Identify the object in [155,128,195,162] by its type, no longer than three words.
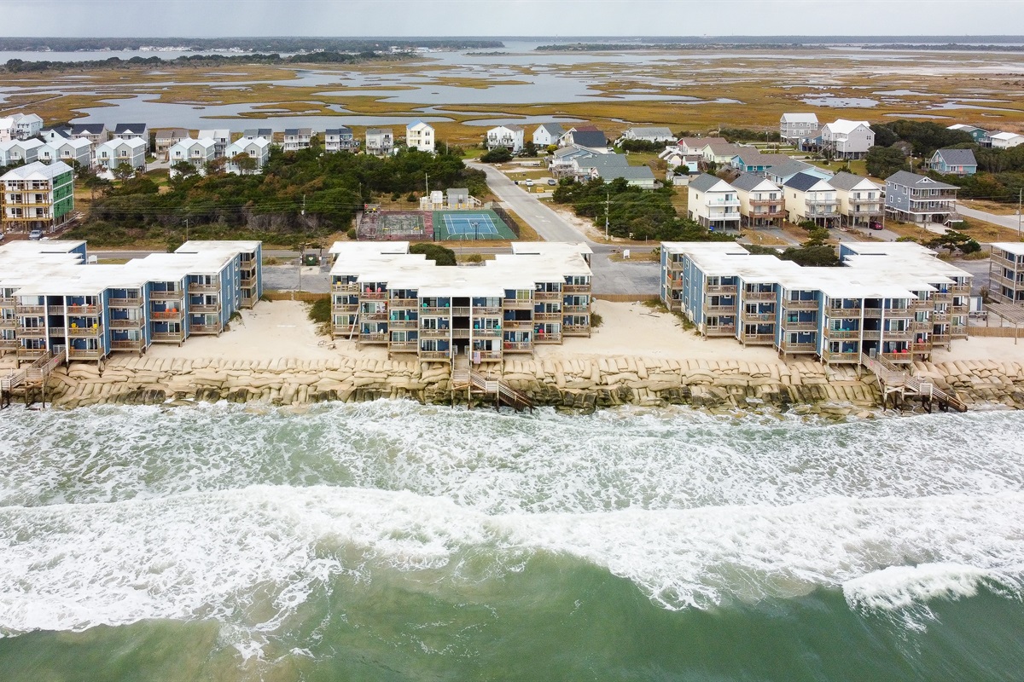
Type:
house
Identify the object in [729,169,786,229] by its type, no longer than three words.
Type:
house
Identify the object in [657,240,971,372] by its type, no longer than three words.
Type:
building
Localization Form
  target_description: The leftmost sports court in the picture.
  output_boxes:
[358,210,433,240]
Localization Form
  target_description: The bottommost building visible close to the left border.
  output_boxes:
[0,239,267,371]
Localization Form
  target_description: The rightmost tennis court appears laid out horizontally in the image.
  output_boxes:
[434,209,519,240]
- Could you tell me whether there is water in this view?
Yes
